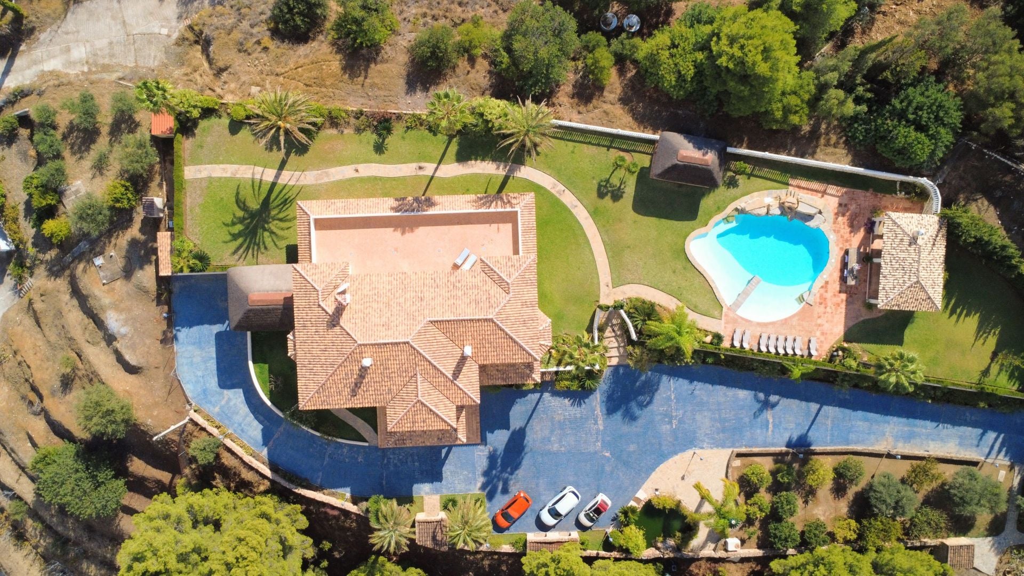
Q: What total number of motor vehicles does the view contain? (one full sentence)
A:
The count of motor vehicles comes to 3.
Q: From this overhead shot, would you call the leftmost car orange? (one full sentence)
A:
Yes, the leftmost car is orange.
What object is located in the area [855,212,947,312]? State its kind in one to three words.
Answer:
building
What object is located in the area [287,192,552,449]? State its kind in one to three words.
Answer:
house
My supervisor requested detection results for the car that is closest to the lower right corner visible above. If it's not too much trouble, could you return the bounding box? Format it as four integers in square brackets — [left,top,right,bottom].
[578,491,613,528]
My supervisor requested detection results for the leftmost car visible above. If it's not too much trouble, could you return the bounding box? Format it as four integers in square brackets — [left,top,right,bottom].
[495,489,532,528]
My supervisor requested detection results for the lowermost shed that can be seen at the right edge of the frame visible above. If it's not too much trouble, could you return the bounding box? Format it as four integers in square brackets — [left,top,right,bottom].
[934,528,974,569]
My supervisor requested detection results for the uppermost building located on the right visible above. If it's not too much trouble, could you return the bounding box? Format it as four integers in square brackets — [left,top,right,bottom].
[651,133,726,188]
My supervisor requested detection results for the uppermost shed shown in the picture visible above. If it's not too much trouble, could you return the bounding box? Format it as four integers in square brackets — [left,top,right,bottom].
[151,109,179,136]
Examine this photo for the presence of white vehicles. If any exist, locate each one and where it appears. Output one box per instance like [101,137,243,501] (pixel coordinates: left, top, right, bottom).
[578,491,613,528]
[540,483,581,528]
